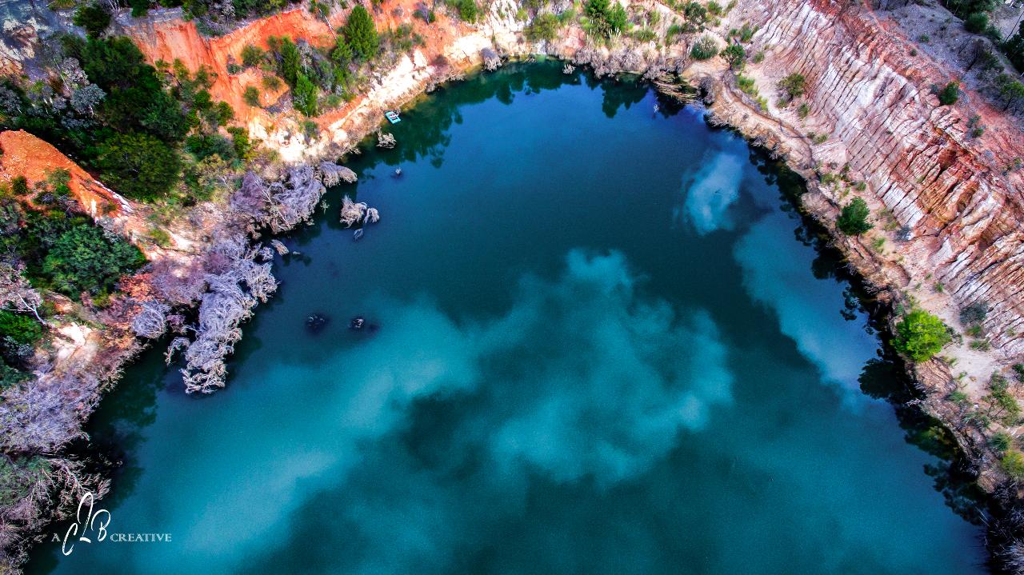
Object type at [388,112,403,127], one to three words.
boat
